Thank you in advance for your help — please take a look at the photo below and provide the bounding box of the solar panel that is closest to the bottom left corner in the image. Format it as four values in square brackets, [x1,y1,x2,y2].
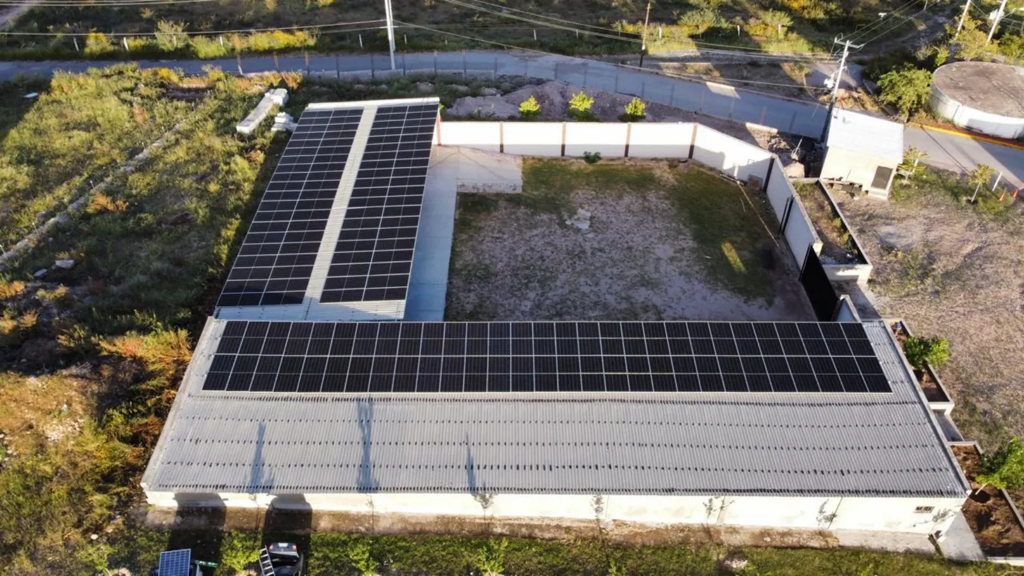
[148,549,186,576]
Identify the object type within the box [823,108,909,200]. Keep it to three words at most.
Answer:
shed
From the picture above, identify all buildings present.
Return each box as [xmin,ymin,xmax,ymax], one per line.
[140,318,970,536]
[823,108,909,200]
